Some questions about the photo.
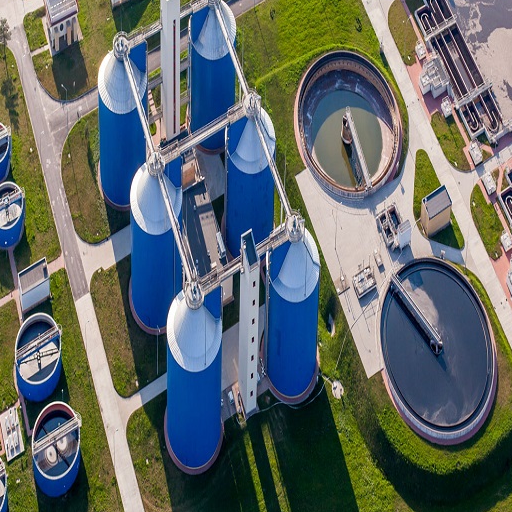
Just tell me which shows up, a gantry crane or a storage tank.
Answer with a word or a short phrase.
storage tank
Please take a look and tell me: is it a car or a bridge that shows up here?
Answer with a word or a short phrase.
bridge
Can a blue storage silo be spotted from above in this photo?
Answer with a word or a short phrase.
Yes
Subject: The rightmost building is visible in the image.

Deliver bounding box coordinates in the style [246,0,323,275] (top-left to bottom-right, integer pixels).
[416,183,452,240]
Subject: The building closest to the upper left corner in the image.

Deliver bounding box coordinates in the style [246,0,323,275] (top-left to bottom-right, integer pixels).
[42,0,82,56]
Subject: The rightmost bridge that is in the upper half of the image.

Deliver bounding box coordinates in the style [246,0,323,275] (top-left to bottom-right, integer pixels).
[344,100,375,195]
